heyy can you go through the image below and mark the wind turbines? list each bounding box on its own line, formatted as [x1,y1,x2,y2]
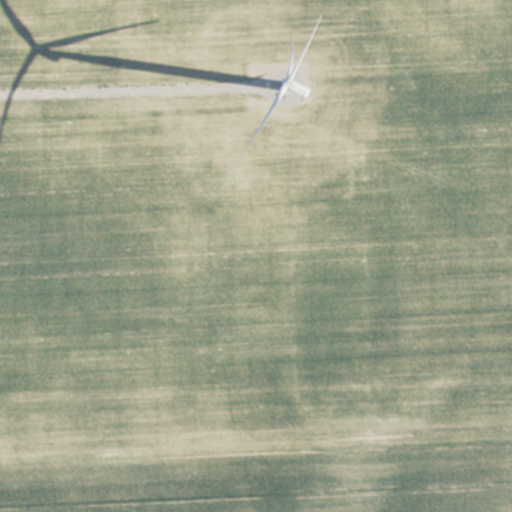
[230,17,320,170]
